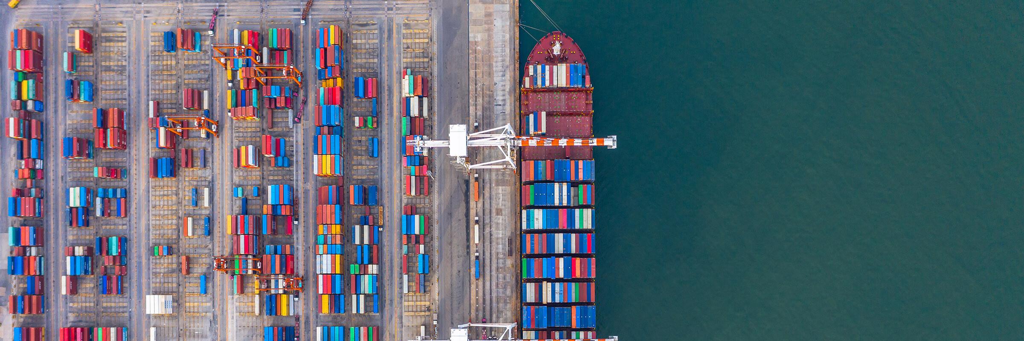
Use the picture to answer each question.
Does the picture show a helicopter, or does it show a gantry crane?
gantry crane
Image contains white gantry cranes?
Yes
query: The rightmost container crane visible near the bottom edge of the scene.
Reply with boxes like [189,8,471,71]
[416,314,617,341]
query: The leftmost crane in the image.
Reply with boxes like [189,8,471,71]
[166,115,218,137]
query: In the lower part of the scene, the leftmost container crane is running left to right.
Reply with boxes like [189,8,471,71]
[212,254,262,274]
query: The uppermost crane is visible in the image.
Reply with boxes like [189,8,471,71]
[212,43,262,68]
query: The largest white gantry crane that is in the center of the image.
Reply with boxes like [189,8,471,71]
[406,124,616,176]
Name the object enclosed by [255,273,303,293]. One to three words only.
container crane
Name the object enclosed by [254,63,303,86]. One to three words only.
container crane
